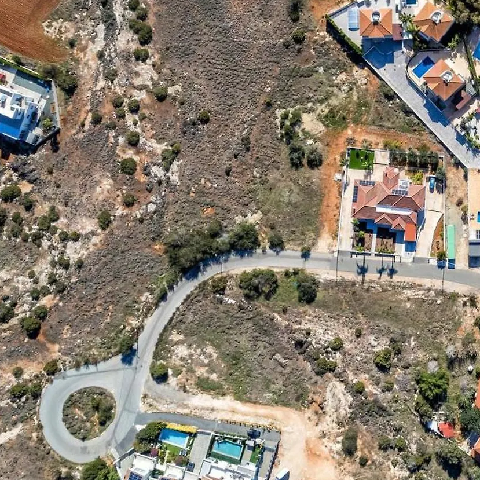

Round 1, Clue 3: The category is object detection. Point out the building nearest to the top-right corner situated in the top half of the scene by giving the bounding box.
[413,2,453,41]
